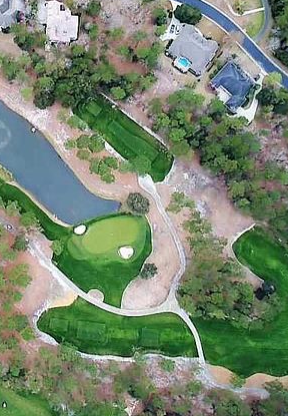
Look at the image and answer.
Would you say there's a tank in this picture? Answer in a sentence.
No, I can see no tank in this picture.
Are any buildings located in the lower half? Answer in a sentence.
No, no building is visible in the lower half.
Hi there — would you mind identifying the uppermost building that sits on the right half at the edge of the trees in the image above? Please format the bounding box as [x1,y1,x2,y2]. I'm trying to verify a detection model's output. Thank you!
[165,22,223,76]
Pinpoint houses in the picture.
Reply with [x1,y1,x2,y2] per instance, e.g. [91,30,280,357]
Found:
[208,61,255,111]
[46,0,78,42]
[0,0,16,27]
[165,22,223,76]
